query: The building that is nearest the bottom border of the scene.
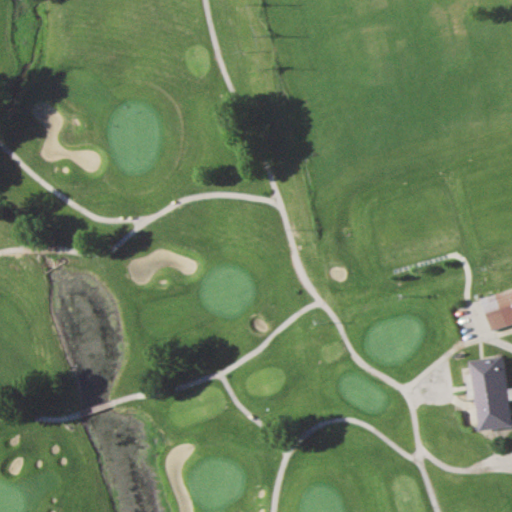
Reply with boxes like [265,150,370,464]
[470,356,512,432]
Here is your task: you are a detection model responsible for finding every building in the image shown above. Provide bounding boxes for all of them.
[486,290,512,331]
[470,356,512,432]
